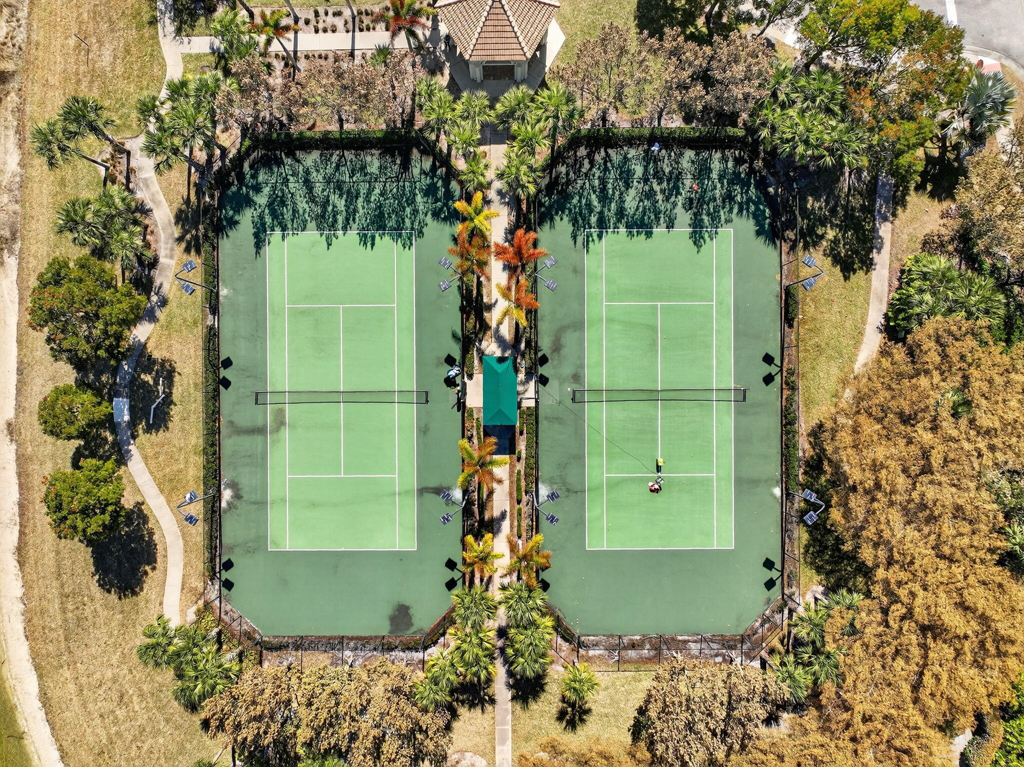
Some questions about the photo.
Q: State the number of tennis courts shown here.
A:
2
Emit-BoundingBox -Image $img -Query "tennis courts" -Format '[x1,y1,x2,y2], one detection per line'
[538,145,782,635]
[220,146,465,637]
